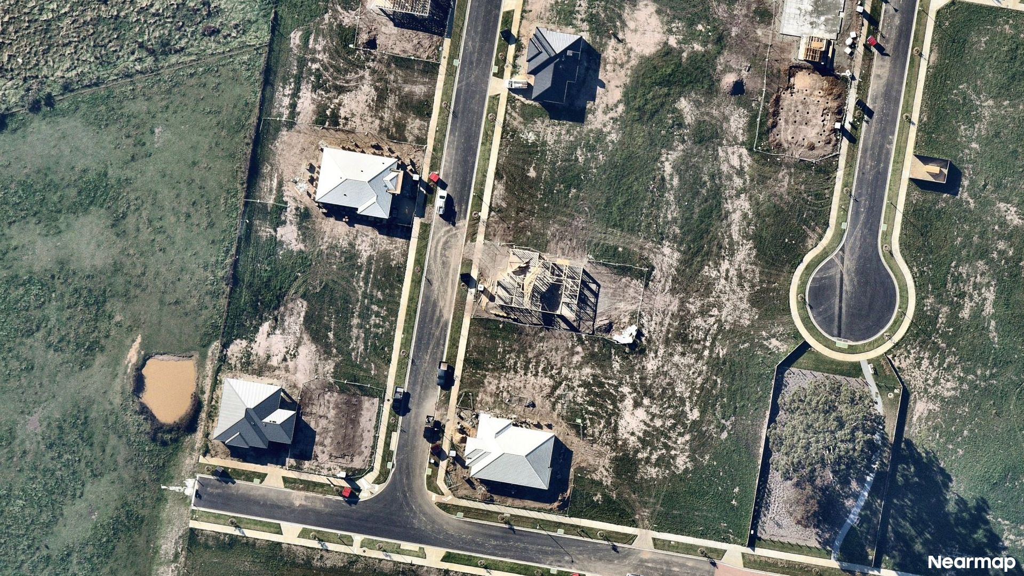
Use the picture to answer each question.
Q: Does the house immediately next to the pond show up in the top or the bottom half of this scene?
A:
bottom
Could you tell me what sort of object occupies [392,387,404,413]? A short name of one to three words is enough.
vehicle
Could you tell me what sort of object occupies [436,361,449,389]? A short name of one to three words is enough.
vehicle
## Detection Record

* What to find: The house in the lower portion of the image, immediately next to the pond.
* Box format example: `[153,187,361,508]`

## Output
[214,378,296,449]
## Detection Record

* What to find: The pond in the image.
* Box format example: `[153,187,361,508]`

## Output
[140,355,198,424]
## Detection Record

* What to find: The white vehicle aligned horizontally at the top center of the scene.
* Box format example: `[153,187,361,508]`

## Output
[504,78,529,90]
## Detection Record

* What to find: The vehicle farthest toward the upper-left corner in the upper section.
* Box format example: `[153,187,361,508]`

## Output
[434,189,447,216]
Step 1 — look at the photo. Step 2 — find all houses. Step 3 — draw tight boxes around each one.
[464,412,555,490]
[495,249,583,318]
[214,378,296,449]
[526,27,582,104]
[315,147,403,218]
[369,0,431,16]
